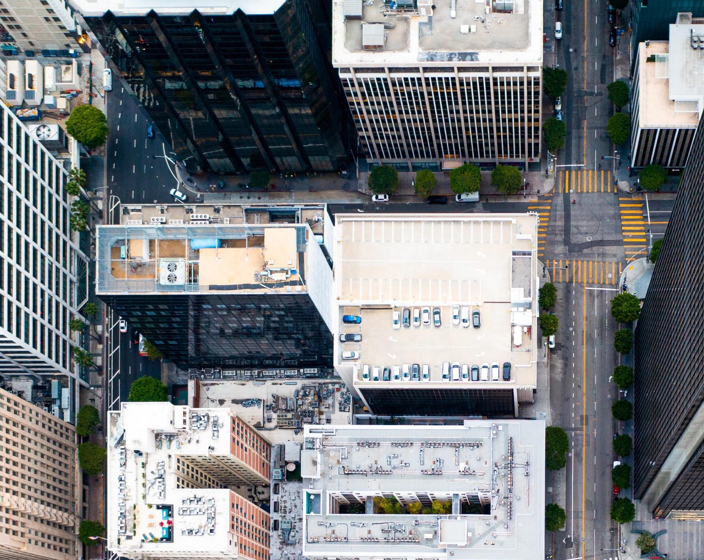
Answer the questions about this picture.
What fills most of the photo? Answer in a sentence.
The bulk of the photo consists of buildings.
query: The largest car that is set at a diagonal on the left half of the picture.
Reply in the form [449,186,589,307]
[170,189,188,202]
